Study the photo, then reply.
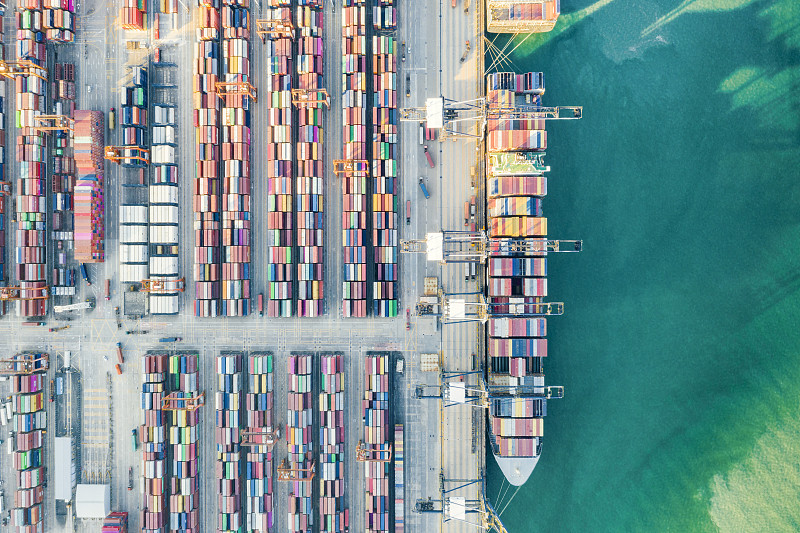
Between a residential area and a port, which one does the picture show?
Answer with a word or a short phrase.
port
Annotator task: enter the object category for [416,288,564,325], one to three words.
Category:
container crane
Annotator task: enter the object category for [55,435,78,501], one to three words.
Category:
building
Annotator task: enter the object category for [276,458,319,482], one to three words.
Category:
container crane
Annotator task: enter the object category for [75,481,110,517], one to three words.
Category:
shed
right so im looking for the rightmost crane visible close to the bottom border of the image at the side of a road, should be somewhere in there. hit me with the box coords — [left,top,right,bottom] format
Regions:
[416,464,521,533]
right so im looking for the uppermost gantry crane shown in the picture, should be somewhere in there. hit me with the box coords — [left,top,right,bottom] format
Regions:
[255,19,298,45]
